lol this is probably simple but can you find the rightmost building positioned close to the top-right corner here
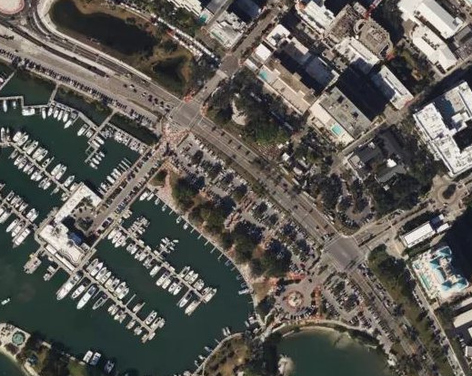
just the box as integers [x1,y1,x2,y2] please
[454,24,472,61]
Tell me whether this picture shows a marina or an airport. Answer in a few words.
marina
